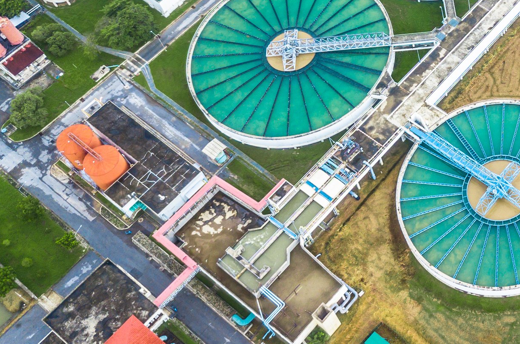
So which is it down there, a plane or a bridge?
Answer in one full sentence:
There is a bridge in the scene.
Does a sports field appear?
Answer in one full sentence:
No, no sports field is visible in the view.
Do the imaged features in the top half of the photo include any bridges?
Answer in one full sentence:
Yes, a bridge appears in the top half of the photo.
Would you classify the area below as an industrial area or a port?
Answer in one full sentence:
This looks like an industrial area.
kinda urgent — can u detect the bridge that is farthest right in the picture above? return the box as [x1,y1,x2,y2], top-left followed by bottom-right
[412,126,520,214]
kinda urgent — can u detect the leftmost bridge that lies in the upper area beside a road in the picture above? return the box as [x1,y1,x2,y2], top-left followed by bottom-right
[264,24,394,68]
